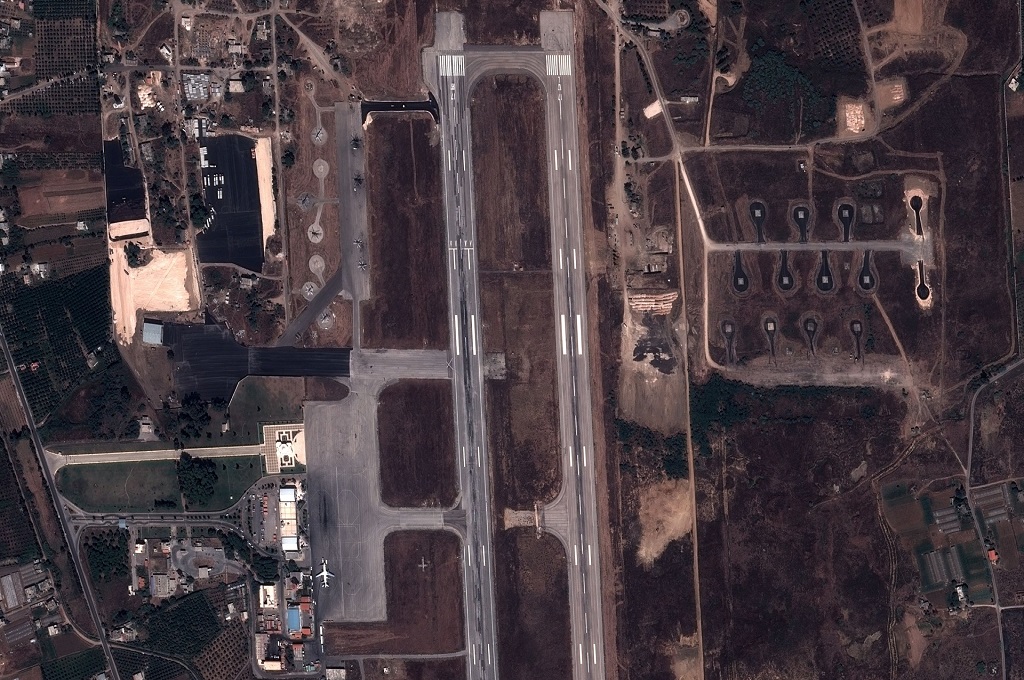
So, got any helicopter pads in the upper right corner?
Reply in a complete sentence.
No, no helicopter pad is visible in the upper right corner.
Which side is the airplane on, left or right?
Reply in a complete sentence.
The airplane appears in the left half of the scene.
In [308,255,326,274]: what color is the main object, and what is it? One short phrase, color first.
gray helipad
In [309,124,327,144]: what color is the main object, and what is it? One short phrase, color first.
gray helipad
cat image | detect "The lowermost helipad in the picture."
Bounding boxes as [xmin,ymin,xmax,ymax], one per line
[316,309,335,329]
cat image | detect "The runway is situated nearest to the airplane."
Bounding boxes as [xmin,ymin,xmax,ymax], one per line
[435,50,498,680]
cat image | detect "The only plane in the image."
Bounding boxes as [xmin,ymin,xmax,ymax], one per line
[313,562,336,587]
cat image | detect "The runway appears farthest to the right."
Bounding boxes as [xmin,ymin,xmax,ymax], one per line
[542,50,604,680]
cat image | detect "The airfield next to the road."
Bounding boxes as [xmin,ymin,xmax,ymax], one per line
[278,11,604,680]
